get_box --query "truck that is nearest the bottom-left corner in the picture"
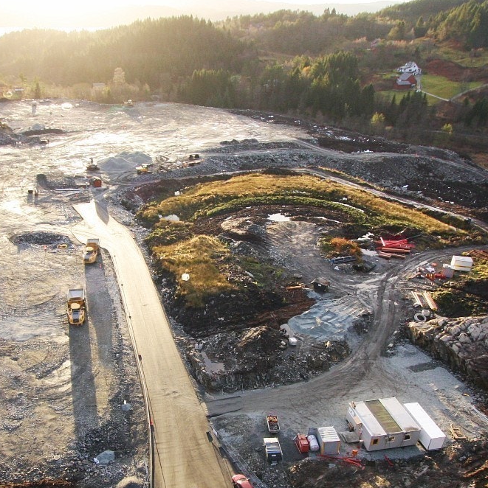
[65,288,87,326]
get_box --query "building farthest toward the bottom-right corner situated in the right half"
[347,398,422,455]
